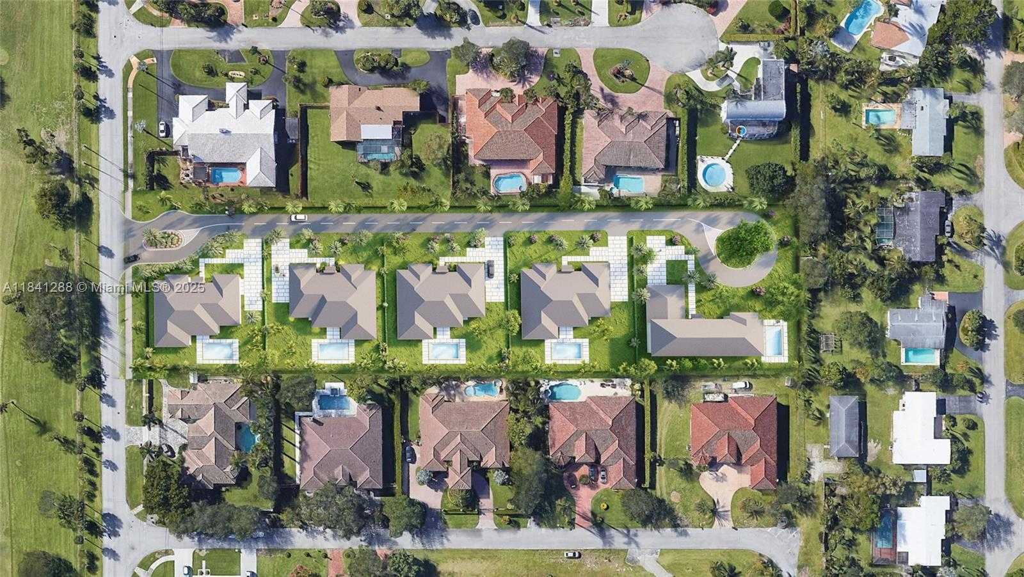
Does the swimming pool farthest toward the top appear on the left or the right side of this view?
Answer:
right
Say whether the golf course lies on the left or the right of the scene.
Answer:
left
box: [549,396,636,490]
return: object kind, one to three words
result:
house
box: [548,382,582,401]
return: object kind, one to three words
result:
swimming pool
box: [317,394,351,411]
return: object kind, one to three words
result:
swimming pool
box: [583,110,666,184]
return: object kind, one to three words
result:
house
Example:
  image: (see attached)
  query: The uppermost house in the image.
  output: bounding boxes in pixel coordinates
[872,0,946,57]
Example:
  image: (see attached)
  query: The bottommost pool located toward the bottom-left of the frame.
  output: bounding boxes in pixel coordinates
[234,421,258,453]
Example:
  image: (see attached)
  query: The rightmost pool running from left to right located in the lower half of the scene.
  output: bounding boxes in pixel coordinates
[905,349,936,364]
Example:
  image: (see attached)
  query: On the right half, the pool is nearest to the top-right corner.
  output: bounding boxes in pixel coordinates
[844,0,883,35]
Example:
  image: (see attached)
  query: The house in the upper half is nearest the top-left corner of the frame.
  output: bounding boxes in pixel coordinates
[173,82,276,187]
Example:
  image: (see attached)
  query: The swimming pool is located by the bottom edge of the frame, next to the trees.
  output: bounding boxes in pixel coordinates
[876,511,894,549]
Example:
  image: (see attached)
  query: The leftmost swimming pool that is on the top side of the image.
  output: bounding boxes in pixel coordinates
[211,166,242,185]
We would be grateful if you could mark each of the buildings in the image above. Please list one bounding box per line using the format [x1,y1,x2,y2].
[721,60,787,122]
[549,396,636,490]
[893,191,945,261]
[288,263,377,339]
[888,297,945,349]
[168,383,250,486]
[153,272,242,348]
[300,404,382,488]
[830,396,858,457]
[521,262,610,339]
[892,392,951,464]
[691,397,778,490]
[896,496,950,567]
[173,82,276,187]
[872,0,946,57]
[583,110,666,184]
[420,393,510,491]
[466,89,558,174]
[646,285,764,356]
[901,88,949,156]
[330,86,420,141]
[914,470,927,483]
[397,263,485,339]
